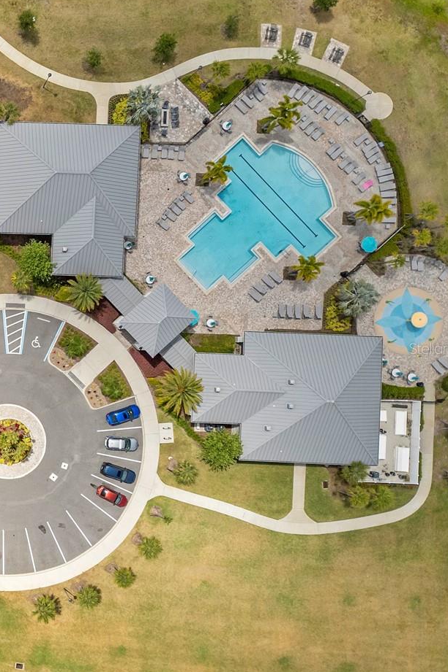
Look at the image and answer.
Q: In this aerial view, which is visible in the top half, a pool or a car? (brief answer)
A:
pool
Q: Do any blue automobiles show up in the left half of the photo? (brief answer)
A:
Yes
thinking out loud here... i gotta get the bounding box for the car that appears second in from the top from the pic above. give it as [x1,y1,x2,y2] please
[104,437,139,454]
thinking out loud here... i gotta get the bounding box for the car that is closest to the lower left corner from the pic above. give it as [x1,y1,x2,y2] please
[95,484,128,508]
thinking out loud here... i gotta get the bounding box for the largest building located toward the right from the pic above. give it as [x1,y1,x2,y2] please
[191,333,382,464]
